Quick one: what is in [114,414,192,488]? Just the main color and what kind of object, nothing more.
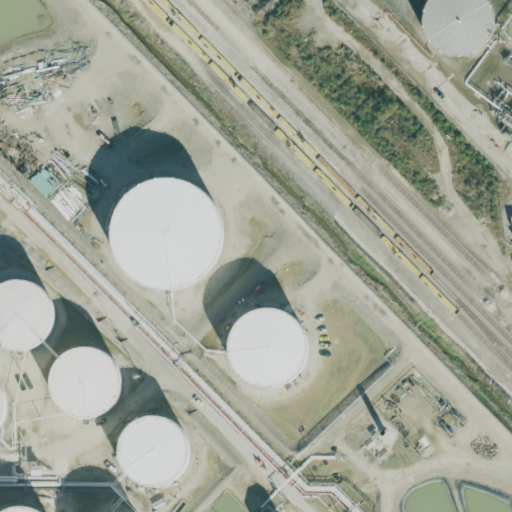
white storage tank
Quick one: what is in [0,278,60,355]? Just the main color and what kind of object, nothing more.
white storage tank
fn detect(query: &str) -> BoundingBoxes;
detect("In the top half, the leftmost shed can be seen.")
[30,168,60,197]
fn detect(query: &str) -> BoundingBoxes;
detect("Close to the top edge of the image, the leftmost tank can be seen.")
[420,0,498,60]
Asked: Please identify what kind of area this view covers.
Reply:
industrial area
